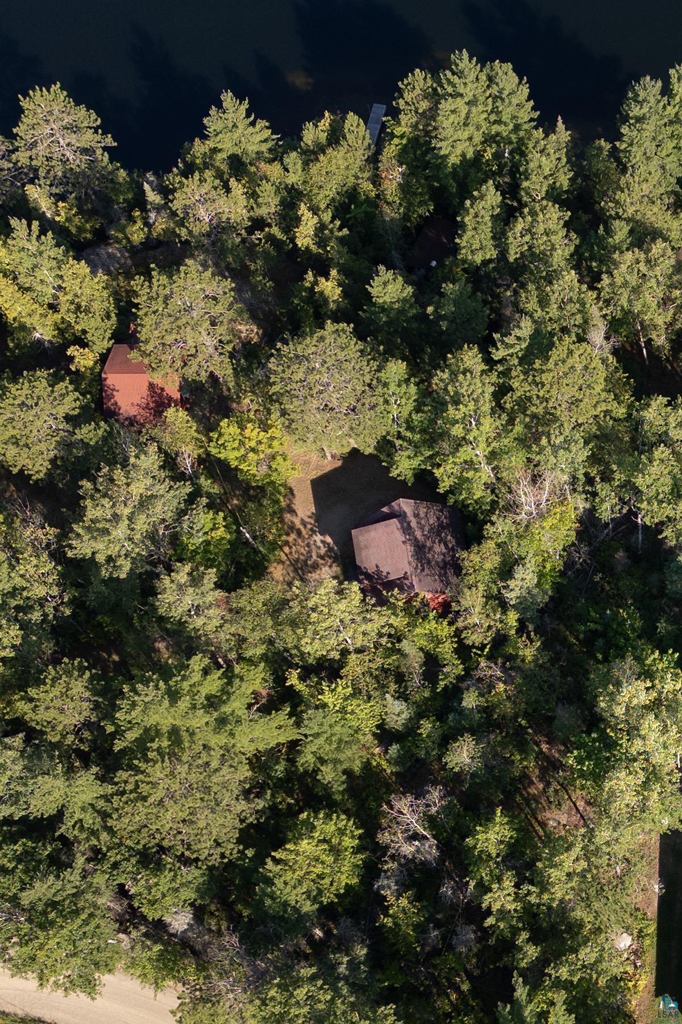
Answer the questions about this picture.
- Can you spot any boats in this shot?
No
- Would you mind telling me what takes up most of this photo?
trees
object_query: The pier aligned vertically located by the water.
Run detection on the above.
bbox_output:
[363,104,386,171]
